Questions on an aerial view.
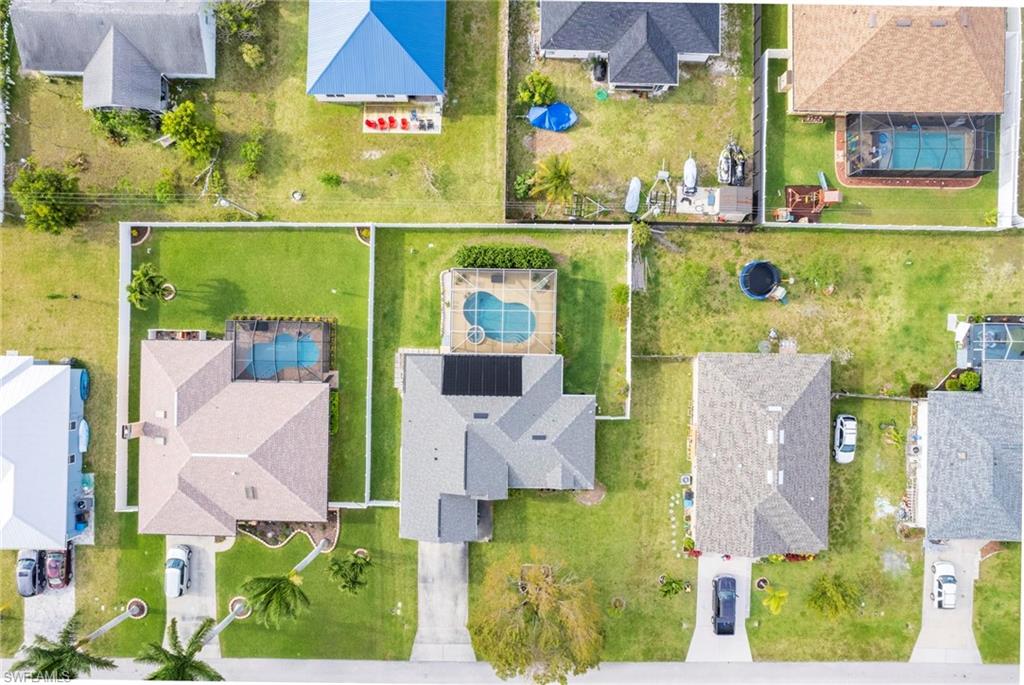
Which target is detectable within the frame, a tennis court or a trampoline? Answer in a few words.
trampoline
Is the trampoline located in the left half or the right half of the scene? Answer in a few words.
right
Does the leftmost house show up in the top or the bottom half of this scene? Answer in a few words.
bottom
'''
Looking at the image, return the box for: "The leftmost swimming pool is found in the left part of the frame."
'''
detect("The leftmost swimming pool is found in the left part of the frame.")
[246,331,321,381]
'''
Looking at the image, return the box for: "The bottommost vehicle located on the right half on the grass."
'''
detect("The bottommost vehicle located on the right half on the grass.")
[831,413,858,462]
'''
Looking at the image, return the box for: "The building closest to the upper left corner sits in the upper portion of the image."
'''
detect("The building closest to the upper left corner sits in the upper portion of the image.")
[9,0,215,113]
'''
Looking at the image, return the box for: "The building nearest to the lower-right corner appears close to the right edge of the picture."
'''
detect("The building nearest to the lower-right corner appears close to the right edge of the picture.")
[913,361,1024,541]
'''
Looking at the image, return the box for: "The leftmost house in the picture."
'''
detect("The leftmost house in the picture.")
[0,348,86,550]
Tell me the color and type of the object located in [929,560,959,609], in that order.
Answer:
white car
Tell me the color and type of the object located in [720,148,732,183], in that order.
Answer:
white boat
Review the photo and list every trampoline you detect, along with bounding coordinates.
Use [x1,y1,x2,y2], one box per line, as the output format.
[742,260,783,300]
